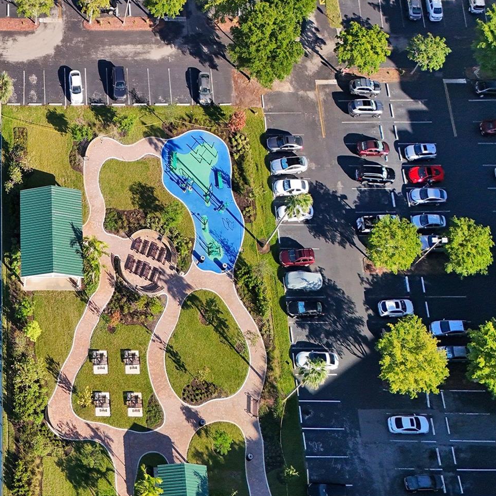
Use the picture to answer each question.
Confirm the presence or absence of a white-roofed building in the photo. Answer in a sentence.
No, I can see no white-roofed building in this picture.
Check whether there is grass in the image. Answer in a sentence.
Yes, grass can be seen from above here.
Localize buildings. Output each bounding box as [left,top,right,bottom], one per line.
[153,463,209,496]
[20,185,84,290]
